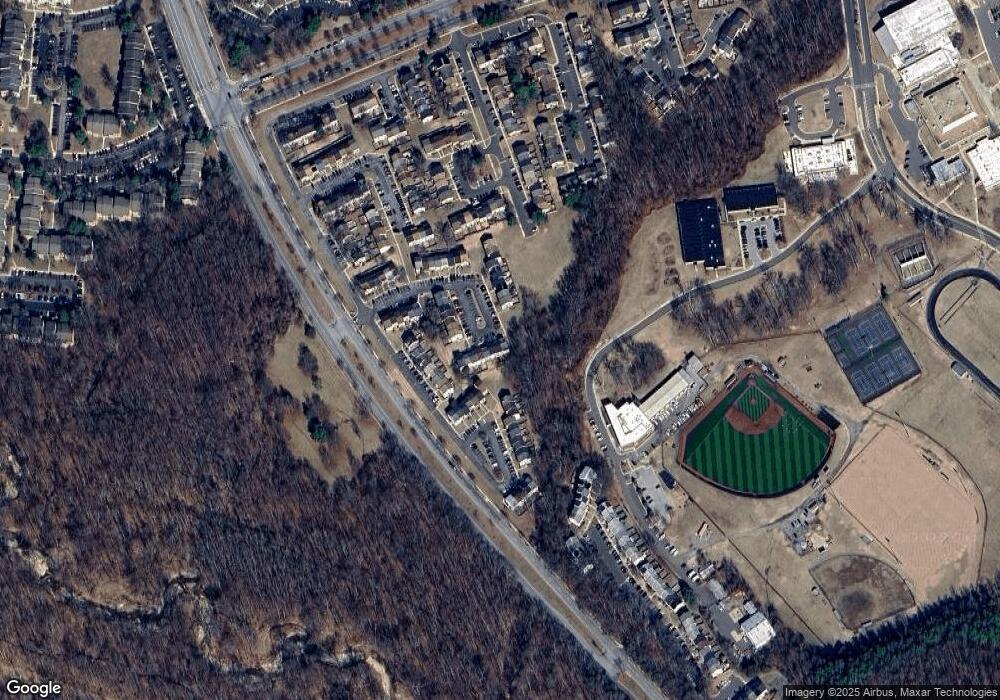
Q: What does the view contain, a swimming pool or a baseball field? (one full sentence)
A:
The one in the frame is a baseball field.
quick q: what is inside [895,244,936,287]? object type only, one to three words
sports court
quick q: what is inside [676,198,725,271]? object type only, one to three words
building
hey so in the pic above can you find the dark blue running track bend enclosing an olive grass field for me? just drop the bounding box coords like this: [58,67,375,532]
[926,268,1000,398]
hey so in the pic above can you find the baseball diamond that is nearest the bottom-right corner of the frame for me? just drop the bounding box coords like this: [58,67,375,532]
[828,427,990,606]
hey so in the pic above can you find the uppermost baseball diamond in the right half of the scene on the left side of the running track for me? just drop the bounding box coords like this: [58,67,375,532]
[677,358,838,497]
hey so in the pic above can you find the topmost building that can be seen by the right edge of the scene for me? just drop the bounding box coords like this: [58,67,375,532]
[873,0,961,89]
